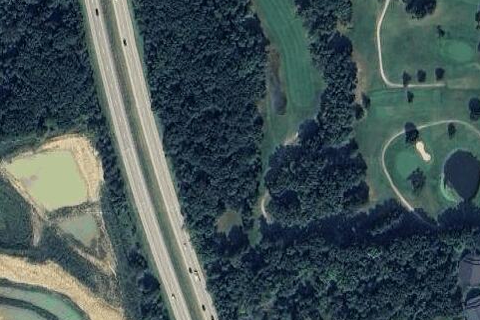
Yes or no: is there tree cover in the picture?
Yes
